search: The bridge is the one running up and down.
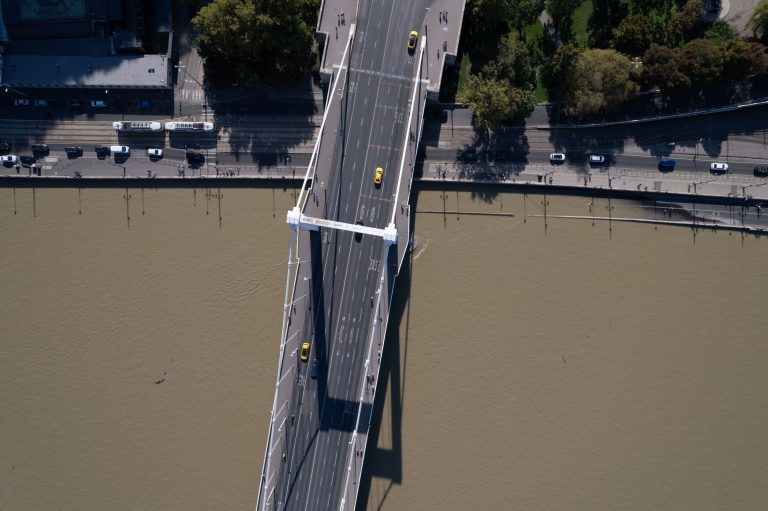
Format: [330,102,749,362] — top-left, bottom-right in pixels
[254,0,465,511]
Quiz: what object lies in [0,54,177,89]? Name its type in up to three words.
building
